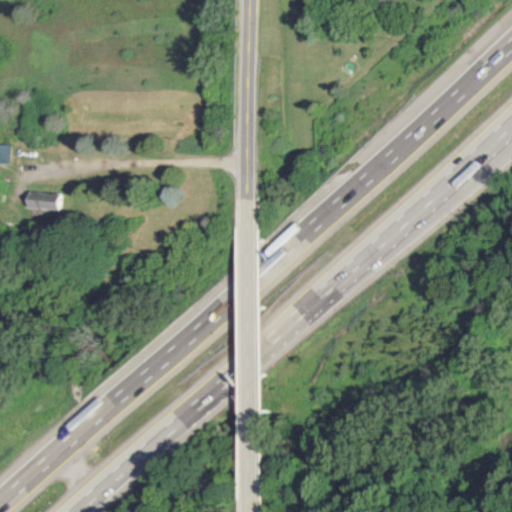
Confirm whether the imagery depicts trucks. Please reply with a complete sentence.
Yes, I can see a truck in this picture.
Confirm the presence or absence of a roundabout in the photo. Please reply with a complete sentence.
No, there is no roundabout in the image.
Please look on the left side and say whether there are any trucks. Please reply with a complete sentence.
Yes, I can see a truck on the left side.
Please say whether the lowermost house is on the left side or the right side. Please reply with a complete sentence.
The lowermost house is on the left side of the image.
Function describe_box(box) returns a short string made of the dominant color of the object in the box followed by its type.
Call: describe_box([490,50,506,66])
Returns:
white vehicle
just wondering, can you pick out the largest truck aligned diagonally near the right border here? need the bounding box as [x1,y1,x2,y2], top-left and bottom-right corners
[454,152,488,183]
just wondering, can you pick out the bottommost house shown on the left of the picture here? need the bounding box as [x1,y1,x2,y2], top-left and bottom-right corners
[27,192,64,213]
